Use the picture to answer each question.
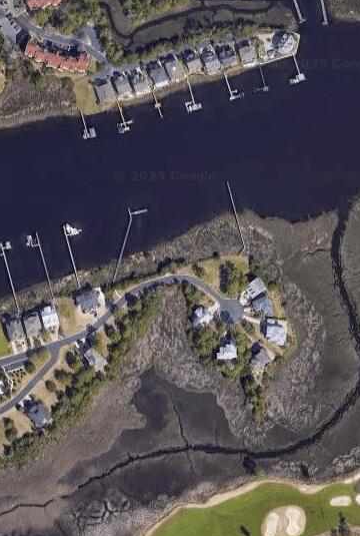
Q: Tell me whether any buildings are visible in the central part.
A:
Yes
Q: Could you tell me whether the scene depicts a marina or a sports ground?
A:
marina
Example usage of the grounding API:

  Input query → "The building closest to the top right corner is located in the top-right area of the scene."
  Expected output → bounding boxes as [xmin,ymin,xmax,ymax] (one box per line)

[271,30,297,58]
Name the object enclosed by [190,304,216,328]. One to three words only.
house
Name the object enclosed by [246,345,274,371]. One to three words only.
house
